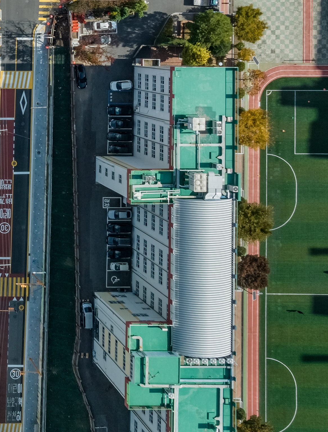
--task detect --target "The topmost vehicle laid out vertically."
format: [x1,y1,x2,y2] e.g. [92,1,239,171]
[75,63,87,89]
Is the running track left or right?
right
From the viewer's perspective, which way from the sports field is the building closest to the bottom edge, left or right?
on the left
